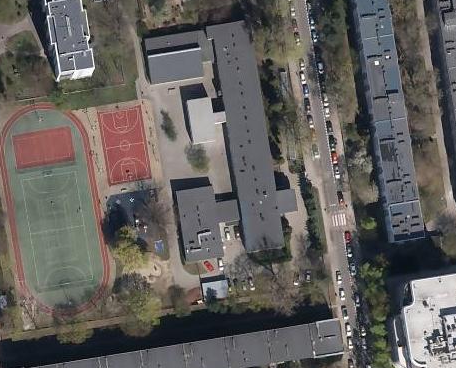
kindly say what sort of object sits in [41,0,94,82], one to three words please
building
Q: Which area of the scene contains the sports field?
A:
left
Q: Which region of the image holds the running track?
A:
left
